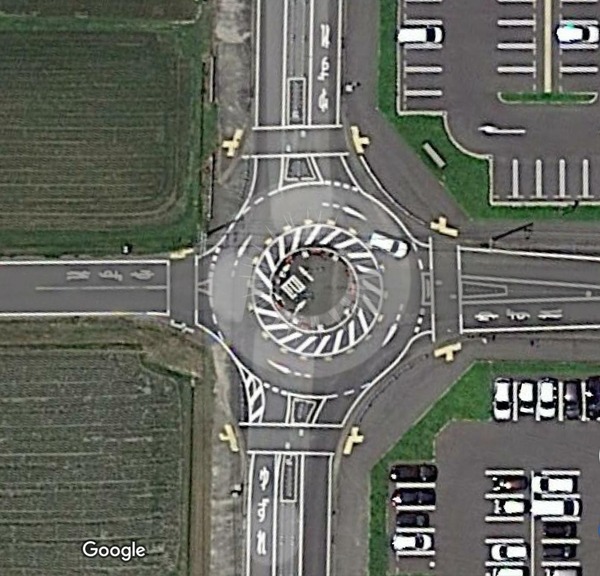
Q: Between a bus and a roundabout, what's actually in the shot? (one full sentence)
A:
It is a roundabout that can be seen here.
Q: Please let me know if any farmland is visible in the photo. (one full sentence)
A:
Yes, some farmland is visible.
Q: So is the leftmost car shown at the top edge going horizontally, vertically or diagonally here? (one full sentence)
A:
The leftmost car shown at the top edge has been laid out horizontally relative to the frame.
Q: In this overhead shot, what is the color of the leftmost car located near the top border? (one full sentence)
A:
From above, the leftmost car located near the top border appears white.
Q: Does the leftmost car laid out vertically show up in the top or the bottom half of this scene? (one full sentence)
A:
The bottom half of the photo is where the leftmost car laid out vertically is.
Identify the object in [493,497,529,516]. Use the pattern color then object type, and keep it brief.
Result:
white car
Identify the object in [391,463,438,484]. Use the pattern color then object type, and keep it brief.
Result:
black car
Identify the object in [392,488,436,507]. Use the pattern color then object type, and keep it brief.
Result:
black car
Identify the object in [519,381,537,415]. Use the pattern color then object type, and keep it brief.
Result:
white car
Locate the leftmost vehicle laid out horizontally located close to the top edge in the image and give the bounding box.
[399,23,445,44]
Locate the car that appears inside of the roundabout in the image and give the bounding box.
[369,231,410,257]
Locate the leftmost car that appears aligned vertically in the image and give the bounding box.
[493,378,514,422]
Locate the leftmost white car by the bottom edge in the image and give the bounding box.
[391,532,434,553]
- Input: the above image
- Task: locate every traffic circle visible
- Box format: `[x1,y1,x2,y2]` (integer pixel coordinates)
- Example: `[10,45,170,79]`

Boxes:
[209,180,425,400]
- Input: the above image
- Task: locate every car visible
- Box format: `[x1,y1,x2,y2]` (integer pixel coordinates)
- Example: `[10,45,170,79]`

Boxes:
[519,381,537,415]
[543,566,581,576]
[543,521,577,539]
[588,376,600,421]
[493,497,529,516]
[557,24,600,43]
[392,488,436,507]
[533,475,577,495]
[396,512,429,529]
[369,231,410,257]
[493,378,514,422]
[391,532,434,553]
[543,543,577,560]
[493,475,528,493]
[391,463,438,484]
[531,497,582,518]
[538,377,558,420]
[491,543,529,562]
[399,23,445,44]
[487,566,529,576]
[564,381,583,420]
